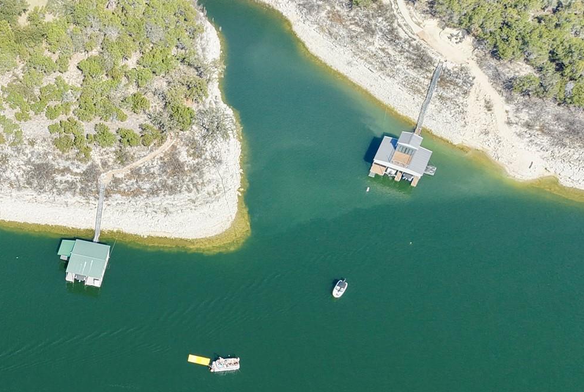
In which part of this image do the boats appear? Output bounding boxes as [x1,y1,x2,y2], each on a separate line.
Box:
[208,358,242,372]
[385,165,398,179]
[402,171,414,184]
[77,275,86,286]
[335,279,349,299]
